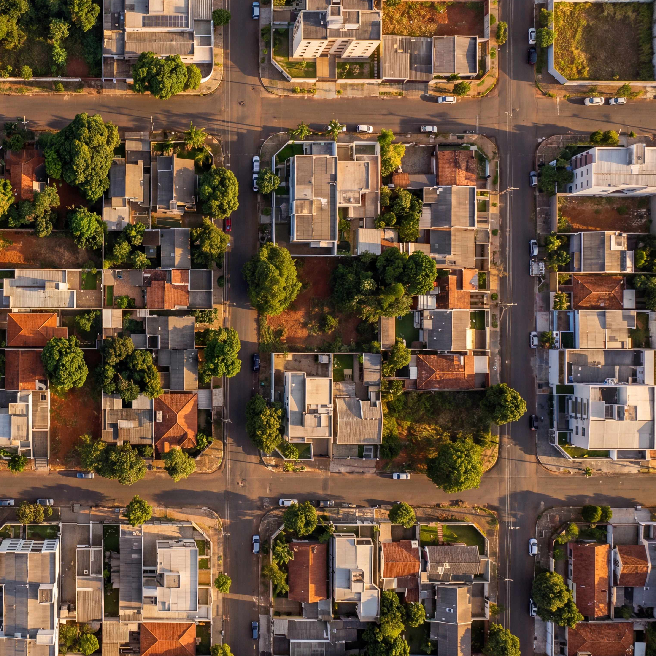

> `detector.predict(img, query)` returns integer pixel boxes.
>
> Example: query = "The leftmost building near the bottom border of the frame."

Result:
[0,540,59,656]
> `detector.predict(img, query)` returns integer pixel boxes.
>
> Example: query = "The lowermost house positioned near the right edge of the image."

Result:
[562,620,646,656]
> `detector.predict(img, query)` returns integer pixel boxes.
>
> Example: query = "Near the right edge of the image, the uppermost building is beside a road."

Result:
[576,144,656,192]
